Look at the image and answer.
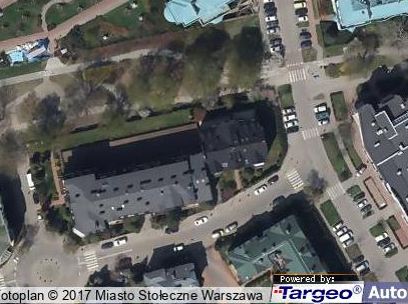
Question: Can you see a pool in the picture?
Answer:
No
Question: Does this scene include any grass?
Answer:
Yes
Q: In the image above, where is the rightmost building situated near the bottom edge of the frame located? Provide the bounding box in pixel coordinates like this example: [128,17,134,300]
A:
[225,216,331,304]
